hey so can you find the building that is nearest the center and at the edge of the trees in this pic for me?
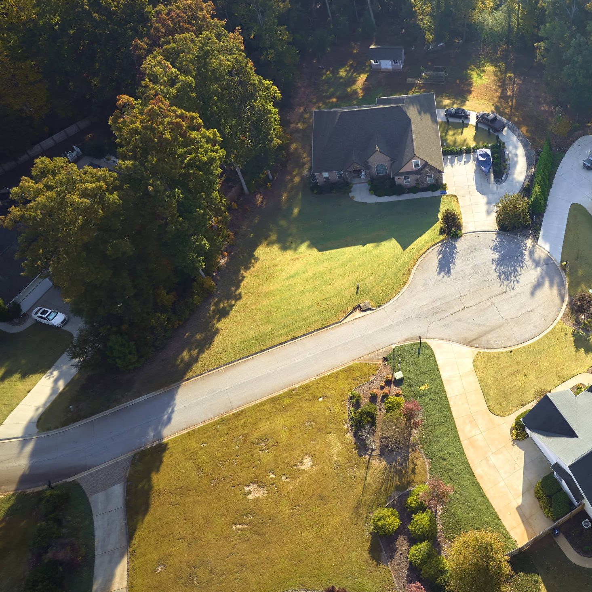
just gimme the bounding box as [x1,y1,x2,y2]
[309,92,443,186]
